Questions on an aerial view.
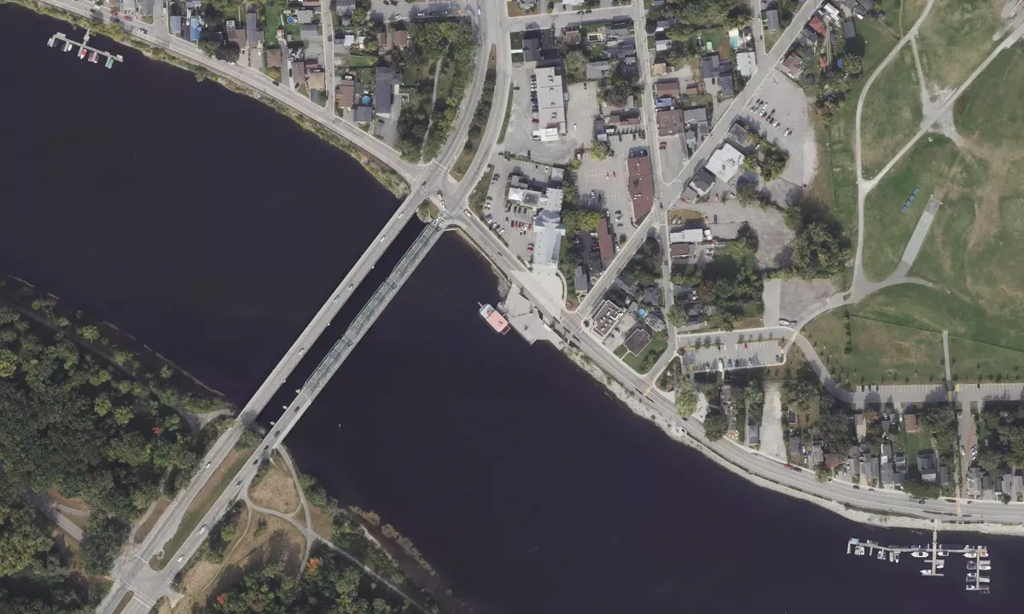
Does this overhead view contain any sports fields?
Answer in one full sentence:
No, no sports field can be seen from above.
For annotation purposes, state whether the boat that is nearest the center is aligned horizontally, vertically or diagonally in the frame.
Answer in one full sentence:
In this picture, the boat that is nearest the center is oriented diagonally.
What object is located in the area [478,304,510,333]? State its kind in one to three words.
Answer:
boat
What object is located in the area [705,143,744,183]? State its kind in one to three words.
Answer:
building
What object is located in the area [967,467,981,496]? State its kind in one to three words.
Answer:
house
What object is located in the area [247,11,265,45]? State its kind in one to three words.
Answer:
house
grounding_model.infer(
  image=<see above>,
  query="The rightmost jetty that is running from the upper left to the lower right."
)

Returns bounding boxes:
[498,284,567,353]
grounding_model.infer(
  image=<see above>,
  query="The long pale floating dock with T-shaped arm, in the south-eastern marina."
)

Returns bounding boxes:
[846,526,988,589]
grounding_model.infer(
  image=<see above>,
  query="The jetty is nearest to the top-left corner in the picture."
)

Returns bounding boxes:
[52,28,125,68]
